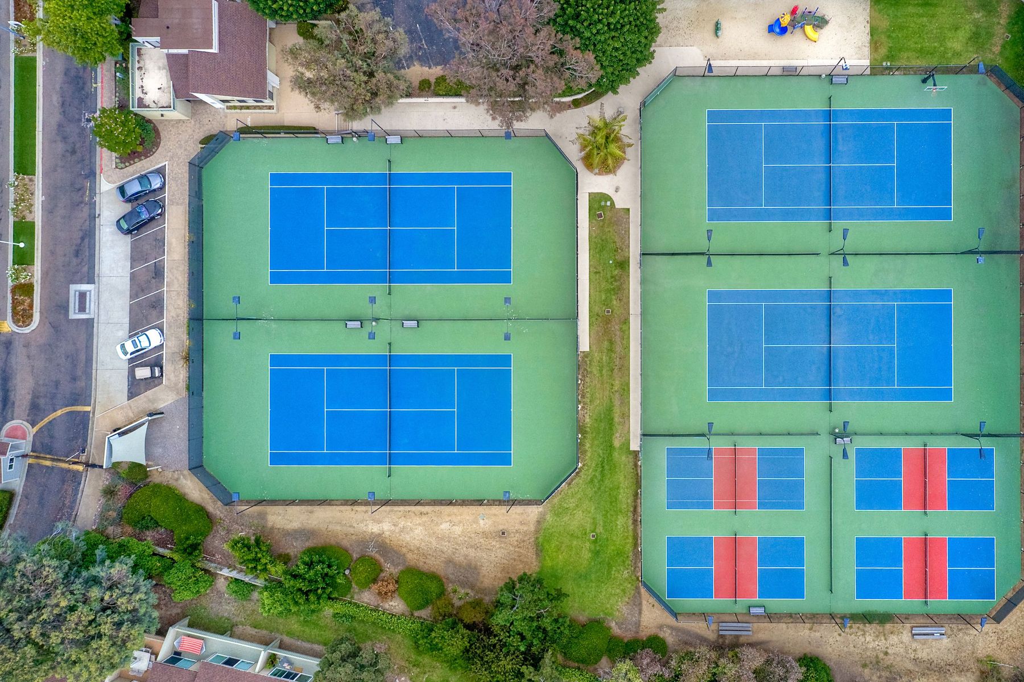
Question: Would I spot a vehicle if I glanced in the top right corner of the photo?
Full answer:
No, I can find no vehicle in the top right corner of the photo.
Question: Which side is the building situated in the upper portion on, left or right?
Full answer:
The building situated in the upper portion appears in the left half of the scene.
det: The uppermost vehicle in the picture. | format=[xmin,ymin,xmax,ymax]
[115,171,169,204]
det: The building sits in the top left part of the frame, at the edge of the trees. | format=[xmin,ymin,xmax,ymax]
[130,0,280,119]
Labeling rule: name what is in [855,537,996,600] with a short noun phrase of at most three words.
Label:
sports court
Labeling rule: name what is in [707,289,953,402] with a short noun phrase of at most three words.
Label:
tennis court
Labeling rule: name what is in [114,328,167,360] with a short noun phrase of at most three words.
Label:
car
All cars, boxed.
[114,199,167,235]
[114,328,167,360]
[115,171,169,204]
